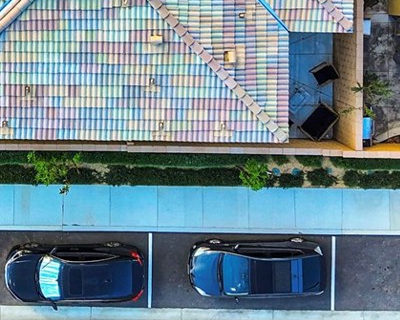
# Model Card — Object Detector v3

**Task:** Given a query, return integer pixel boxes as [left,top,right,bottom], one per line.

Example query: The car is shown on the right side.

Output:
[187,238,326,308]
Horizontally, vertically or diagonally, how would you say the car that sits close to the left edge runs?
horizontally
